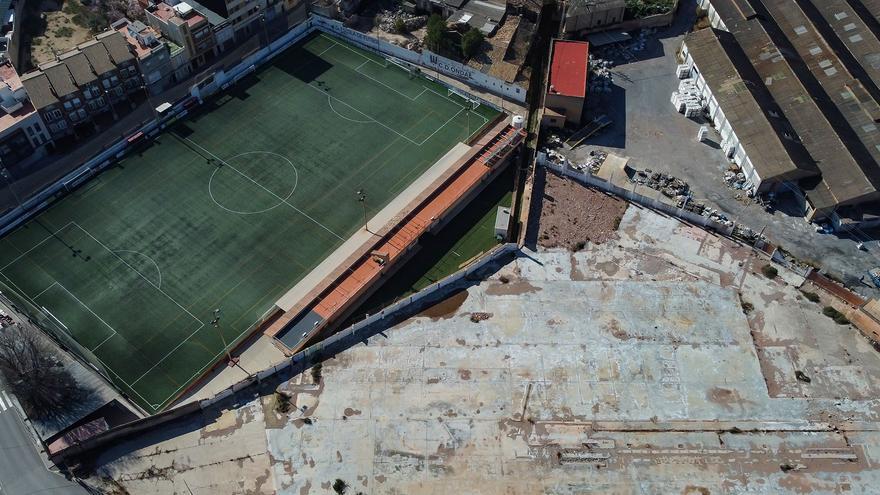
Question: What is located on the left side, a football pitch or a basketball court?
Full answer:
It is a football pitch that can be seen on the left side.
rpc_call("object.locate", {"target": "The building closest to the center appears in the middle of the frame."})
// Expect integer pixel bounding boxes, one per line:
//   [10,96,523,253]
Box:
[495,206,511,237]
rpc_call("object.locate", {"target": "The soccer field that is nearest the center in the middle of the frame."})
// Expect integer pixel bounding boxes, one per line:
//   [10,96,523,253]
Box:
[330,165,516,338]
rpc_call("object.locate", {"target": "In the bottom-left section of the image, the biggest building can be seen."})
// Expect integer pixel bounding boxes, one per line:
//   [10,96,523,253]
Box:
[42,400,146,470]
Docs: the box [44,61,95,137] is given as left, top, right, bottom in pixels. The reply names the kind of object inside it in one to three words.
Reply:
house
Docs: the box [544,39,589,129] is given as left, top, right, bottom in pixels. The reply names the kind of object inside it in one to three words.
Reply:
building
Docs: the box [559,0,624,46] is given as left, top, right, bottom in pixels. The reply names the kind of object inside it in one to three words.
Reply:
hangar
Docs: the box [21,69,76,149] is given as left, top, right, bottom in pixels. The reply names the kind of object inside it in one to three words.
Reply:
house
